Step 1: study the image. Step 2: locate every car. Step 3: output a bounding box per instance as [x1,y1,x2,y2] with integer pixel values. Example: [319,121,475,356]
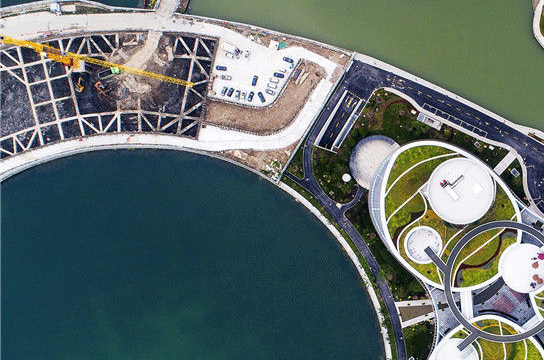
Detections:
[282,57,294,63]
[221,84,229,97]
[241,90,248,101]
[267,82,279,89]
[258,91,266,103]
[220,75,231,81]
[273,71,285,78]
[265,88,276,96]
[247,90,255,102]
[235,88,242,100]
[270,76,281,83]
[277,65,289,73]
[227,86,234,99]
[252,75,259,87]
